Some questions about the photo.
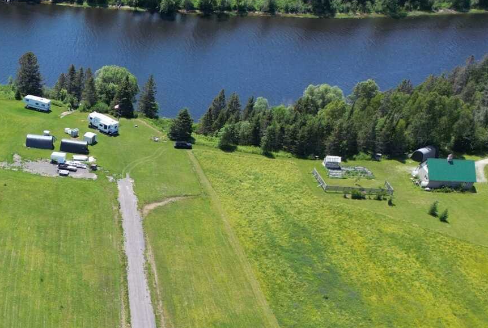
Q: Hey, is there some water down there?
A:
Yes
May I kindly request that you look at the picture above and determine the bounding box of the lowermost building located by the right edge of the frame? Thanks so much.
[408,154,481,189]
